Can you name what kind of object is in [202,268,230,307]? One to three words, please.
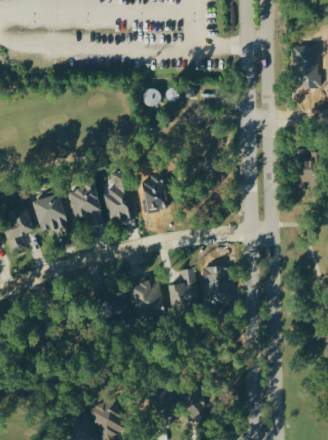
house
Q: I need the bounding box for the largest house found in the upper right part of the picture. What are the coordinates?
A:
[292,42,322,92]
